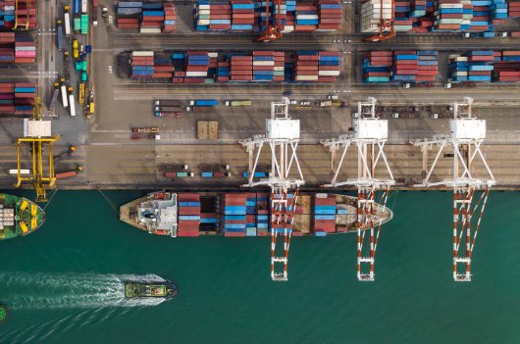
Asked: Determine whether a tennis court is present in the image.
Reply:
No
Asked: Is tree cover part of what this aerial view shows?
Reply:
No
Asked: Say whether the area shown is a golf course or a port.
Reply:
port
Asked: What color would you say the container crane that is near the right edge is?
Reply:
white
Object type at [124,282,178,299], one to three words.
boat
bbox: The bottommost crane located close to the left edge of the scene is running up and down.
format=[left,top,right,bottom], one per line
[5,95,60,212]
